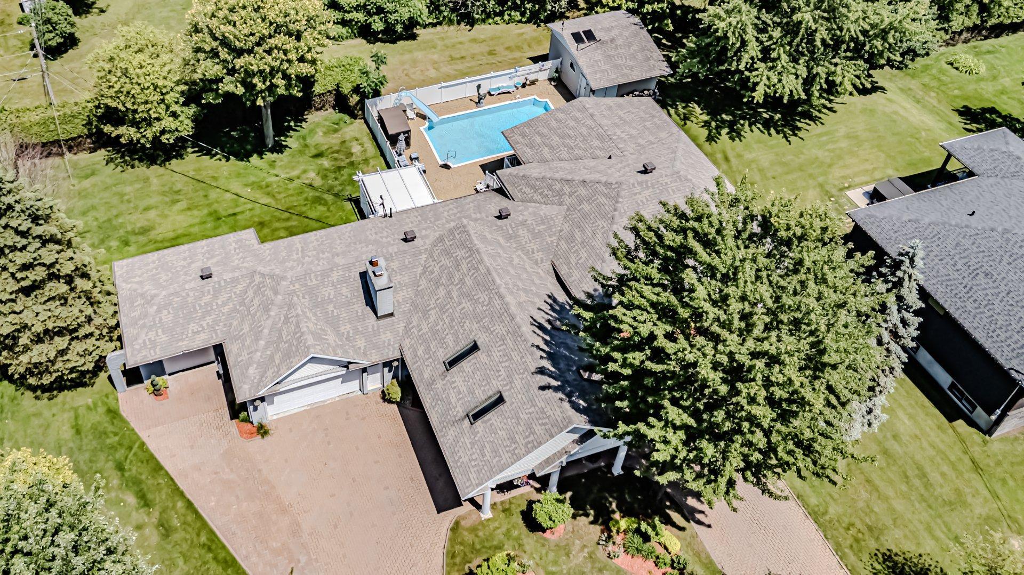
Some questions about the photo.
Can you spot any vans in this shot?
No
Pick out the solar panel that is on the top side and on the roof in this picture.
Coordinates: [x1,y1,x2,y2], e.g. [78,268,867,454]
[577,29,612,60]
